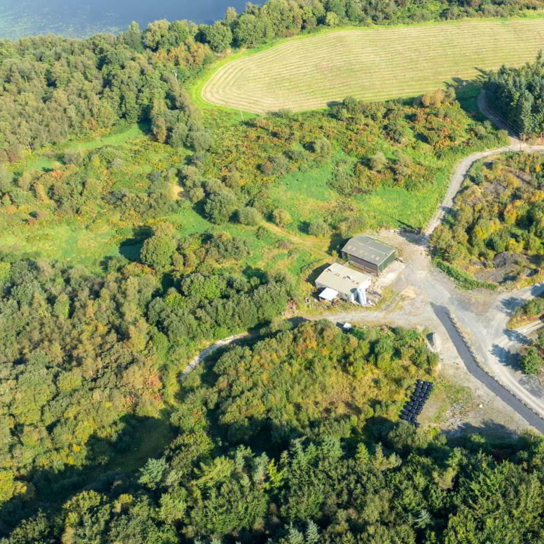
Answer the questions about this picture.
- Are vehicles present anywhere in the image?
No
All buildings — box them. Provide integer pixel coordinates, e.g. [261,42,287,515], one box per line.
[340,234,395,274]
[315,262,370,305]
